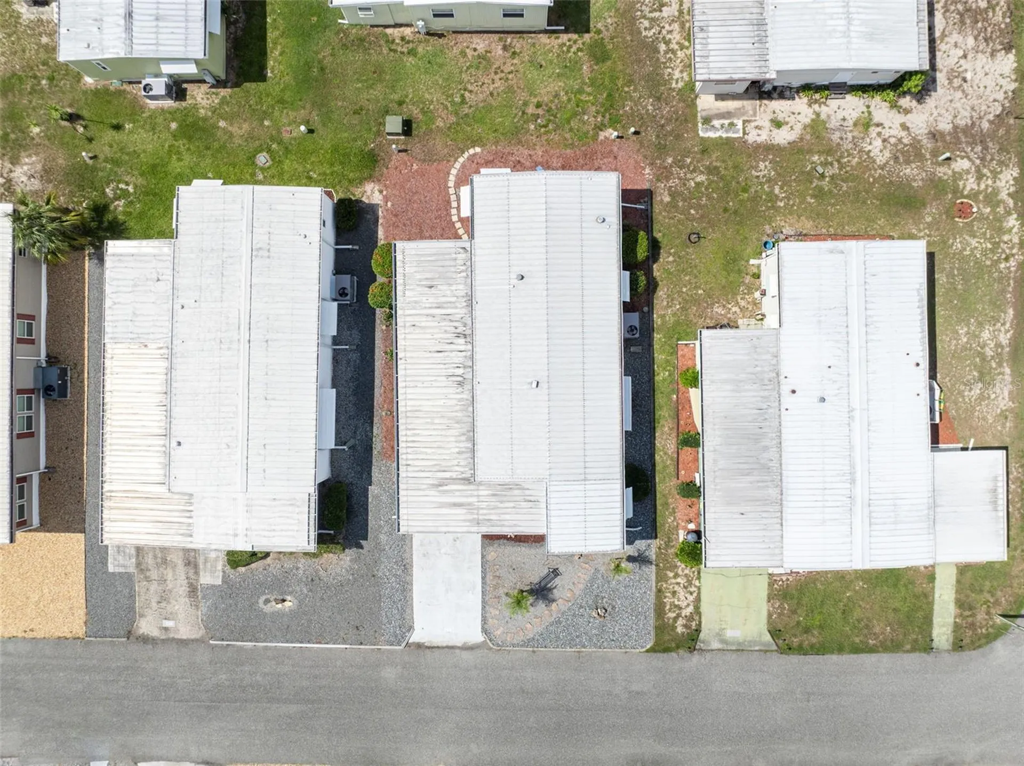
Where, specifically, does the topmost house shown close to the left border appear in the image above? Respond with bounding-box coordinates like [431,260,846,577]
[48,0,225,82]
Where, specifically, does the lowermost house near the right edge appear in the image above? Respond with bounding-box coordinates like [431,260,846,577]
[692,239,1009,571]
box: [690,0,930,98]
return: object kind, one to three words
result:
house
